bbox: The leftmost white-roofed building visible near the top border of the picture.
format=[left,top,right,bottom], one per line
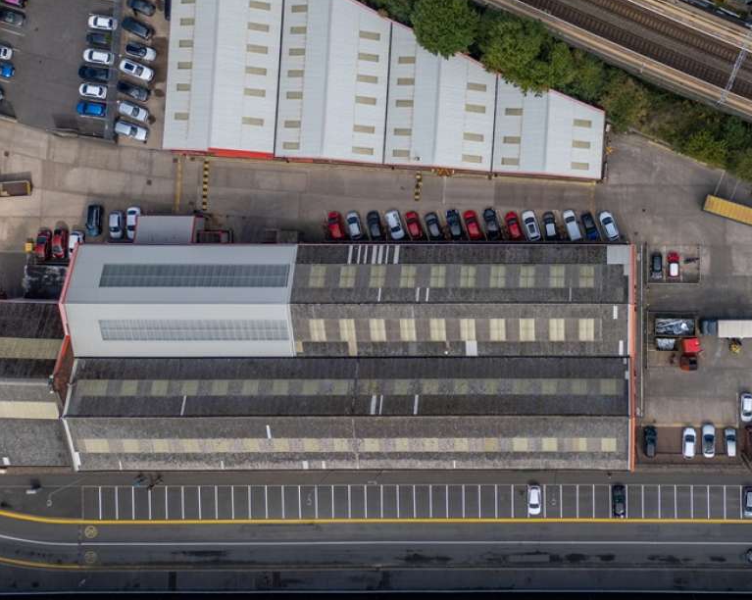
[163,0,606,182]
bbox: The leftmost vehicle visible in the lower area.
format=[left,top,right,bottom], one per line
[527,485,542,514]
